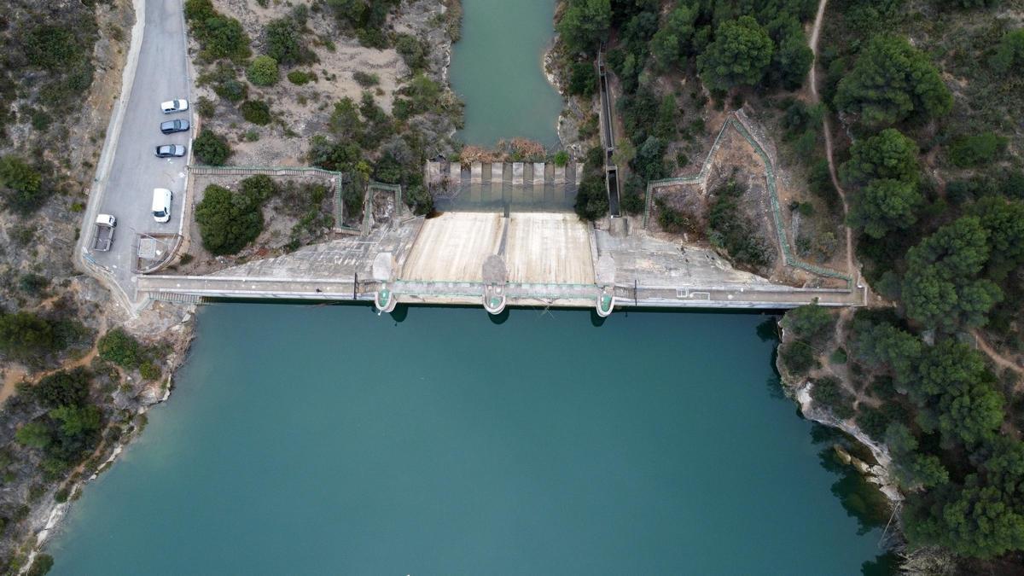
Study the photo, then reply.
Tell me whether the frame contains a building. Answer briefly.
No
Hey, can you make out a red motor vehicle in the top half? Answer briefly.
No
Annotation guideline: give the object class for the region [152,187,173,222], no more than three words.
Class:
vehicle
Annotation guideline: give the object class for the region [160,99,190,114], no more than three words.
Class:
car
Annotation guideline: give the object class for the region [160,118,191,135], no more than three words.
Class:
car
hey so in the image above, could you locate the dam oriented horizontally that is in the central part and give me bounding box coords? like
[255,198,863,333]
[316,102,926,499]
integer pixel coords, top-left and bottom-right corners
[138,152,870,320]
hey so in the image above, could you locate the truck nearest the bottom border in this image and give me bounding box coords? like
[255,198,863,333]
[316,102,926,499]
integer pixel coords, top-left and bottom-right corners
[92,214,115,252]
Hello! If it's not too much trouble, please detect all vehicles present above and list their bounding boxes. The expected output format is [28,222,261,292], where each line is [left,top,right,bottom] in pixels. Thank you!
[92,214,115,252]
[160,118,191,135]
[160,99,190,114]
[155,143,187,158]
[152,187,173,222]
